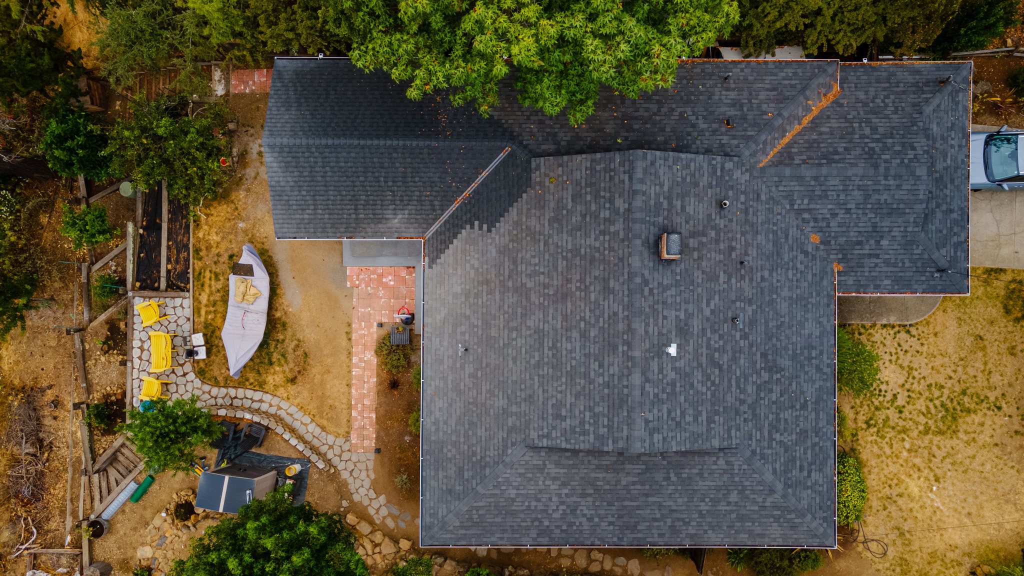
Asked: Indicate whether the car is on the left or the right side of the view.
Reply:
right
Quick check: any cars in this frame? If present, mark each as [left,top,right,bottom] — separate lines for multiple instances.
[972,126,1024,192]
